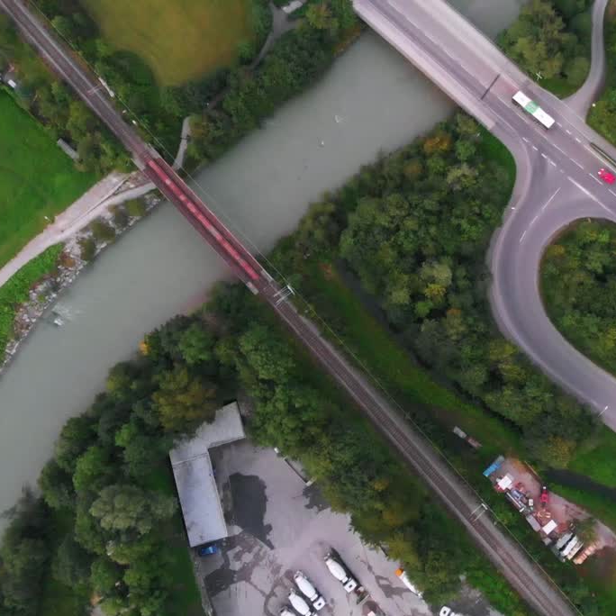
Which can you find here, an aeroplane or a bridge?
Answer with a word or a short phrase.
bridge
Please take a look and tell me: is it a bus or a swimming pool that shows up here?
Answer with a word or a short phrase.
bus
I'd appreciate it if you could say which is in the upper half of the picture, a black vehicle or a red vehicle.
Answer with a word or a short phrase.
red vehicle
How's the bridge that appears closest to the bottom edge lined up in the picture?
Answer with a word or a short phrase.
at an angle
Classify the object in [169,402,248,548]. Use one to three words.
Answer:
shed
